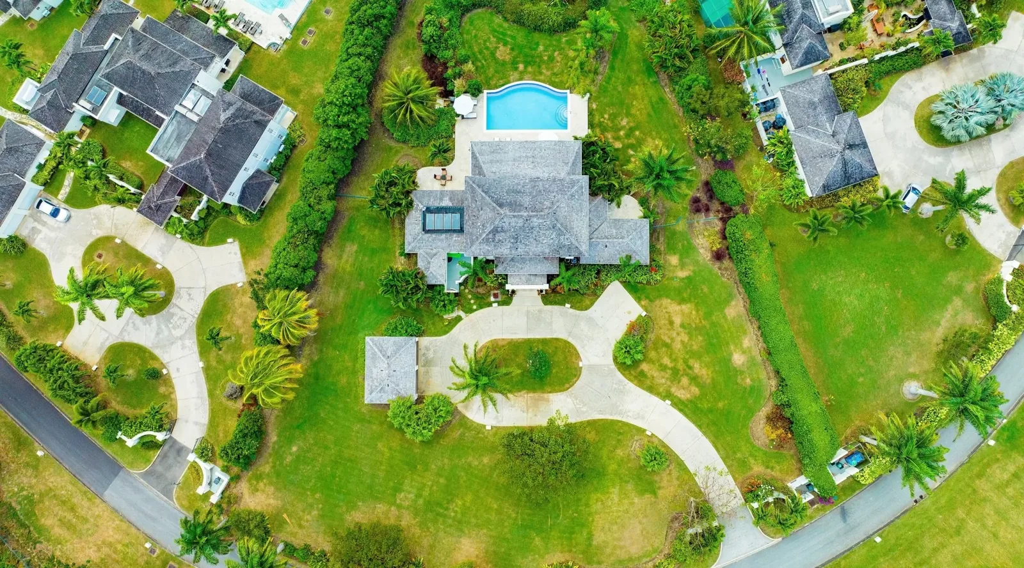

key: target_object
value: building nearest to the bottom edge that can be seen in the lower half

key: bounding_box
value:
[364,336,421,404]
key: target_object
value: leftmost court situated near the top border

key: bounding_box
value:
[698,0,733,29]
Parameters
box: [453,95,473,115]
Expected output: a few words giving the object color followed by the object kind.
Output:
white umbrella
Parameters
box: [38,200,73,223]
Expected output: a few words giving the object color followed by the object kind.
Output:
white car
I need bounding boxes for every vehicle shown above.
[38,200,73,223]
[897,182,924,215]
